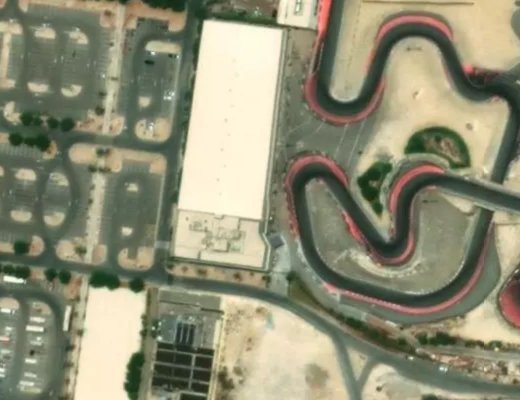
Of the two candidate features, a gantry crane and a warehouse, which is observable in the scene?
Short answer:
warehouse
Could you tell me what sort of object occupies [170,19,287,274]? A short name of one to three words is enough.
warehouse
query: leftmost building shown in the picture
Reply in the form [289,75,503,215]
[75,288,148,400]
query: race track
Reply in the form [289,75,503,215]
[287,0,520,327]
